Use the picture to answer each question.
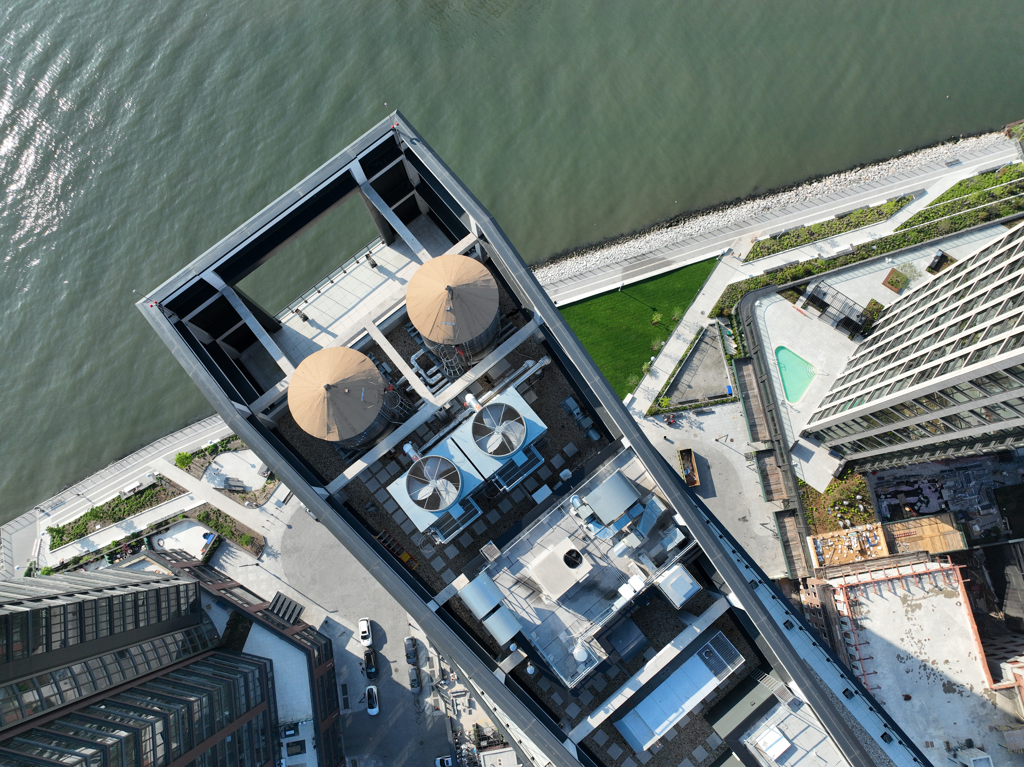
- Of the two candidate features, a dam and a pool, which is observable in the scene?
pool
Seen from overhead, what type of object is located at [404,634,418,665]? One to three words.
car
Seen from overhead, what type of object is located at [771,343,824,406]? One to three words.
swimming pool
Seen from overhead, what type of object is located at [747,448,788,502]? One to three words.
shed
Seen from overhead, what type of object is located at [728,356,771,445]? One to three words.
shed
